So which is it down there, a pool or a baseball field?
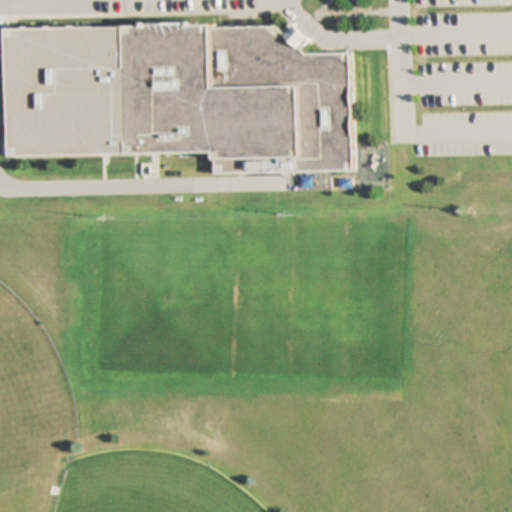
baseball field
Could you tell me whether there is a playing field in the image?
Yes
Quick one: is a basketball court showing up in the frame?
No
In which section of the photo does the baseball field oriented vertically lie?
bottom left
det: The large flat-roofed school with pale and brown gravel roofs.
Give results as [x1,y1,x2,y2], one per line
[0,22,358,174]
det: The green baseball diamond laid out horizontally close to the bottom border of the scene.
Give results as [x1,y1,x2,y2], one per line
[56,448,268,512]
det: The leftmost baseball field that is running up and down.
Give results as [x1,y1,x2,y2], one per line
[0,284,76,512]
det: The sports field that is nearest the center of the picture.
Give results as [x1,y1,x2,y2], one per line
[62,214,415,401]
